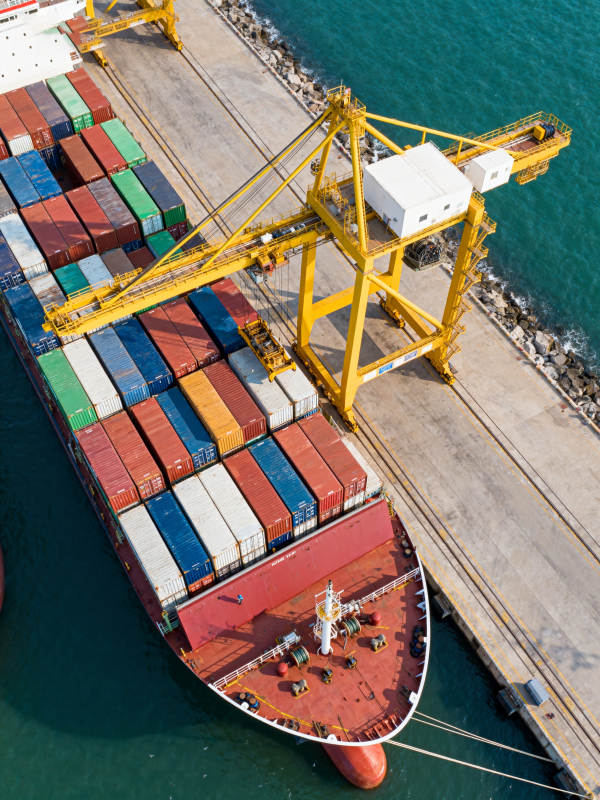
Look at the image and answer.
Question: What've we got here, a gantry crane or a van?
gantry crane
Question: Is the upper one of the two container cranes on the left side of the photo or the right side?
left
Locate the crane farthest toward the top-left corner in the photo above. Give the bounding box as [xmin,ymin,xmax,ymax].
[73,0,184,72]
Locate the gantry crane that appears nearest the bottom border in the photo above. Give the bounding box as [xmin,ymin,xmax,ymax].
[41,58,582,430]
